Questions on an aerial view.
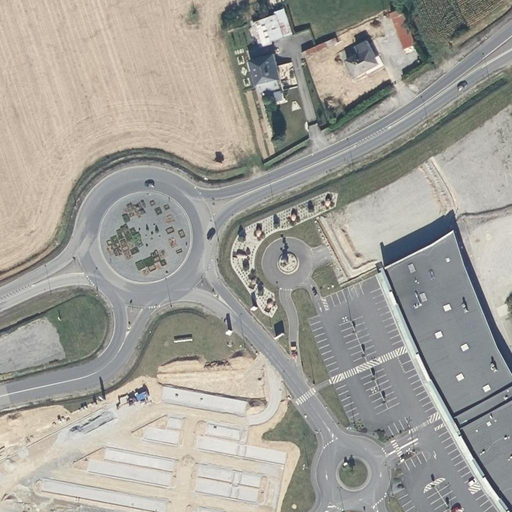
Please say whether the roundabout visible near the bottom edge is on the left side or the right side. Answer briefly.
right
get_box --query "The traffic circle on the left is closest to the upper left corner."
[76,167,216,307]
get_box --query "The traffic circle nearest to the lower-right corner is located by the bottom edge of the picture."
[317,434,390,512]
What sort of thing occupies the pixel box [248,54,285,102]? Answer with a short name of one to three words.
house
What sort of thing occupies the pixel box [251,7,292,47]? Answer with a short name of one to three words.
shed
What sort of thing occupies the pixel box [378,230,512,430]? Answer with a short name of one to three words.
building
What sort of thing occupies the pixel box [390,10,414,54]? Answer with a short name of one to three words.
shed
